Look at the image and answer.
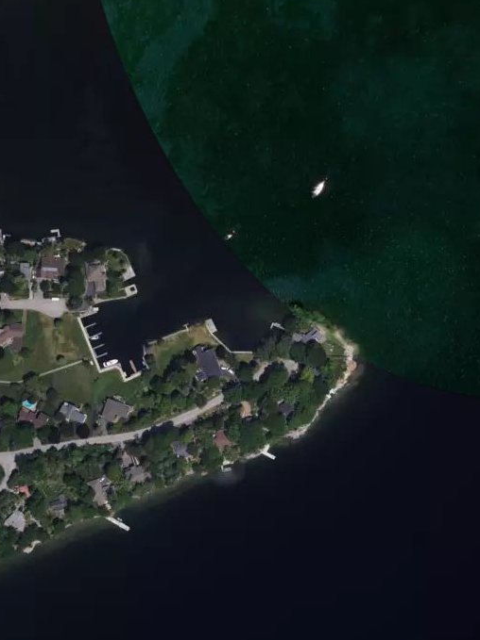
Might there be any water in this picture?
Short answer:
Yes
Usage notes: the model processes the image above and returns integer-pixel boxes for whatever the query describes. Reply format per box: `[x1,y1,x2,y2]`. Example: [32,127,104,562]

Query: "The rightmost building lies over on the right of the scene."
[292,327,327,346]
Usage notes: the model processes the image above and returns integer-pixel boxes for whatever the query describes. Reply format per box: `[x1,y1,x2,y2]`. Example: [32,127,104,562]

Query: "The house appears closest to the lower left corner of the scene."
[3,507,25,533]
